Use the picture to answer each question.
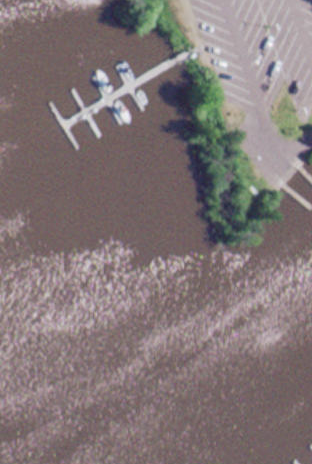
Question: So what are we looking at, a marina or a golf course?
marina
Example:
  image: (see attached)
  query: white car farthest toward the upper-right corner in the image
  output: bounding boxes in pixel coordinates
[265,34,277,52]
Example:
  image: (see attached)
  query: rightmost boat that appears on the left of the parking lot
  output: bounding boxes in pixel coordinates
[136,88,150,108]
